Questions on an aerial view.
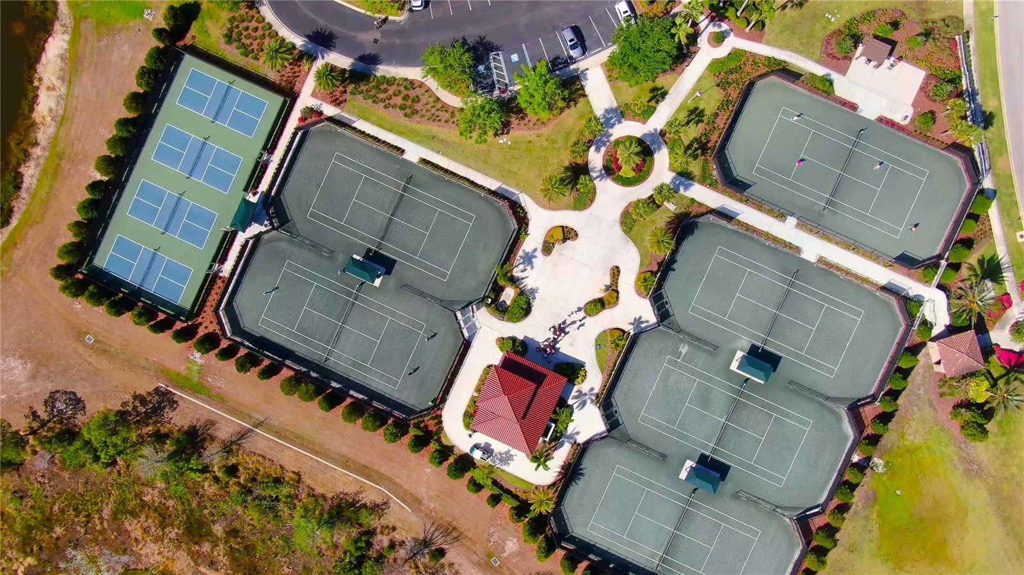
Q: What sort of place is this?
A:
sports ground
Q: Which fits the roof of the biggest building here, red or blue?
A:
red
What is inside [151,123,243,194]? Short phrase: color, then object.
blue sports court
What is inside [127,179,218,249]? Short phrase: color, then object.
blue sports court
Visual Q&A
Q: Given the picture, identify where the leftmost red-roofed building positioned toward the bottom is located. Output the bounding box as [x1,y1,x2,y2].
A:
[470,351,567,455]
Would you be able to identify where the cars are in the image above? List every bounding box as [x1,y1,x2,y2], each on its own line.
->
[563,23,585,56]
[410,0,424,11]
[615,0,638,23]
